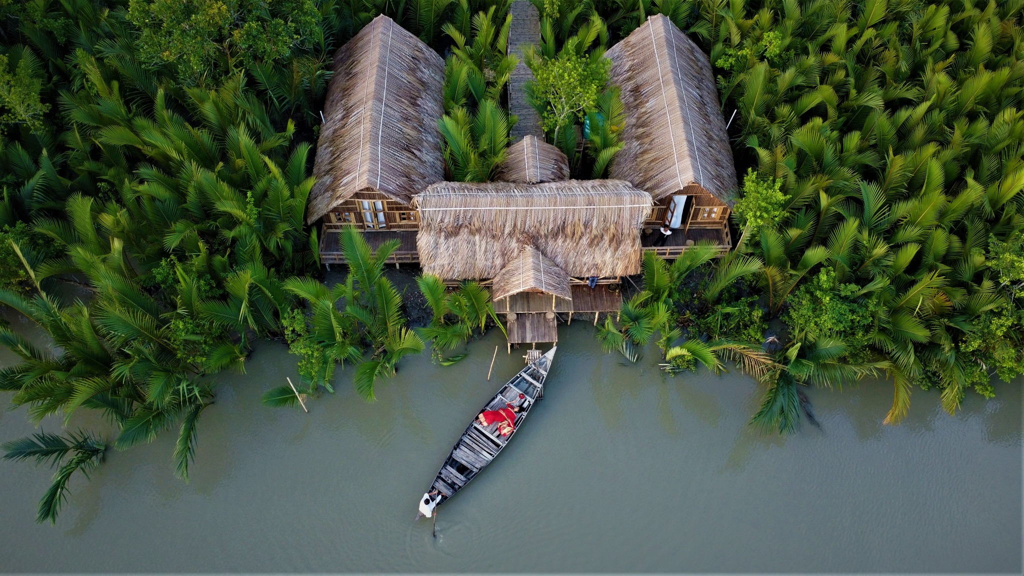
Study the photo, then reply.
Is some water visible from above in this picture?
Yes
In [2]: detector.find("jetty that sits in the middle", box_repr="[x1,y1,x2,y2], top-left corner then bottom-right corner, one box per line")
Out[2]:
[508,313,558,354]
